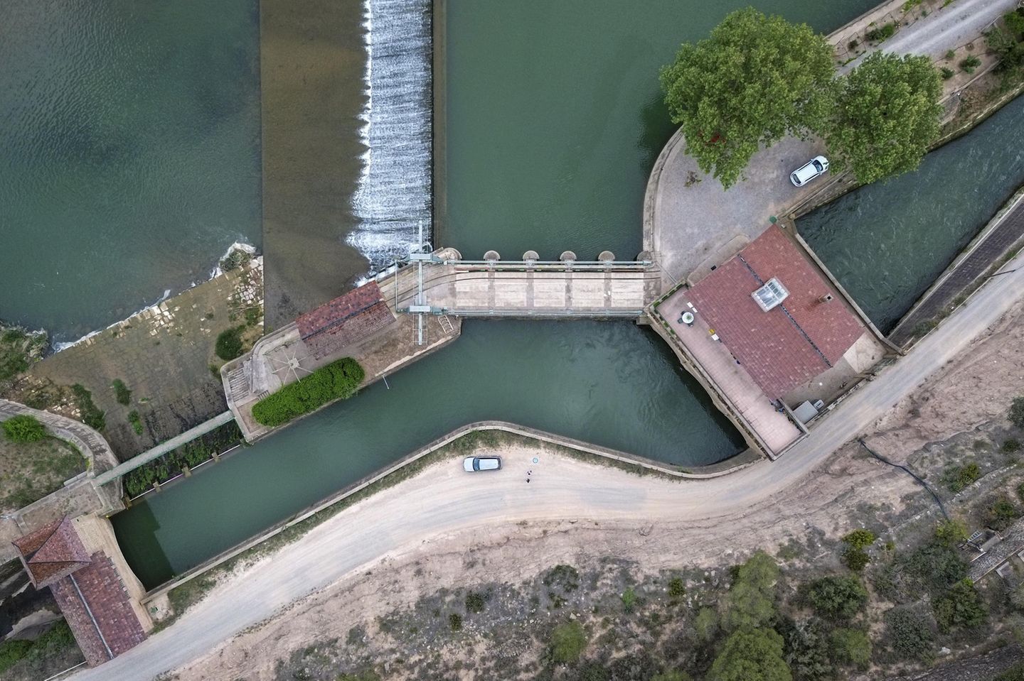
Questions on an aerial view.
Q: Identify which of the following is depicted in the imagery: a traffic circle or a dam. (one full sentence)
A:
The image shows a dam.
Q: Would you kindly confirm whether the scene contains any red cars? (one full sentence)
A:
No, there appears to be no red car in this shot.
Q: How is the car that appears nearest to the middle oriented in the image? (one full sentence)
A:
What the image shows is the car that appears nearest to the middle lying from side to side.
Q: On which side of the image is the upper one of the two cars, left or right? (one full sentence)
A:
The upper one of the two cars sits on the right side.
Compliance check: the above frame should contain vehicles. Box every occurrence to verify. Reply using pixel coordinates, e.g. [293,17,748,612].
[462,455,503,475]
[790,155,830,187]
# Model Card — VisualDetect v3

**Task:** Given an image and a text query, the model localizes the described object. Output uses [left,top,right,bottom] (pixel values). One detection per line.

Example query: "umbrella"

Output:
[267,341,313,384]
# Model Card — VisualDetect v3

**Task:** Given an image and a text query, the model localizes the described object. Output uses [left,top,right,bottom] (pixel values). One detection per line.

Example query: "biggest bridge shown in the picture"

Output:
[437,248,663,319]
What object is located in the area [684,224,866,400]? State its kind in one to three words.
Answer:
house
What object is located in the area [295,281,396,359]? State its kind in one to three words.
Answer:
shed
